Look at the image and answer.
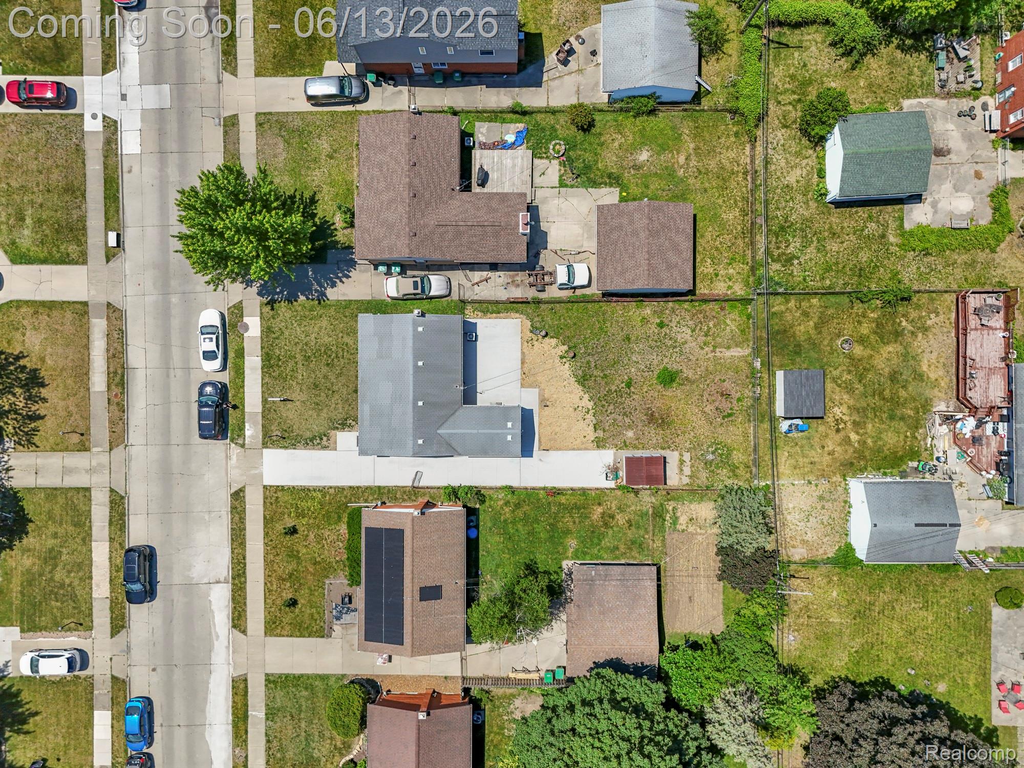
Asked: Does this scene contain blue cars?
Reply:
Yes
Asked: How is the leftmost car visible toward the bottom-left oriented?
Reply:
horizontally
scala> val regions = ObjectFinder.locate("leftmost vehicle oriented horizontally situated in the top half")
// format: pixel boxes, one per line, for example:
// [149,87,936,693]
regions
[8,77,72,109]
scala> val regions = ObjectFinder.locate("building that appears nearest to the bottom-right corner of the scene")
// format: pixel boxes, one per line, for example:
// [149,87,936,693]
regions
[848,478,961,564]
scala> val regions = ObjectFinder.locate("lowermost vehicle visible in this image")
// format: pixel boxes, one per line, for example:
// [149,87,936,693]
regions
[127,747,155,768]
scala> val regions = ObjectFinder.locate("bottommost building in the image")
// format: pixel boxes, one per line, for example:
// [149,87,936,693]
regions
[367,683,472,768]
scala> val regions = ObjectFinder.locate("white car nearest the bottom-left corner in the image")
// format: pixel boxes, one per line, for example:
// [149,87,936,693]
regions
[22,647,84,677]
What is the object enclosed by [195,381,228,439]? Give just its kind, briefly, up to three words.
car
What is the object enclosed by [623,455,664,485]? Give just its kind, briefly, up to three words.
shed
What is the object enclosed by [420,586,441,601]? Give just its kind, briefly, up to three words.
solar panel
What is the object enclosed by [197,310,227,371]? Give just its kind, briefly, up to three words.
car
